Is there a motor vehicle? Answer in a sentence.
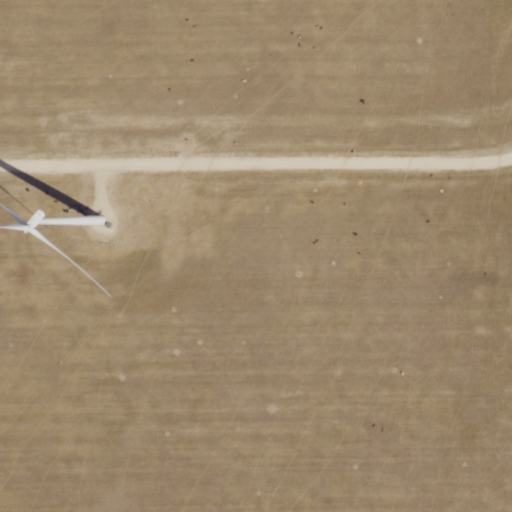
No, I can't see a single motor vehicle in this photo.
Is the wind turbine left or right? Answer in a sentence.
It is on the left.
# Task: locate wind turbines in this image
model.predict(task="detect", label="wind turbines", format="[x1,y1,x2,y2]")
[0,204,110,295]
